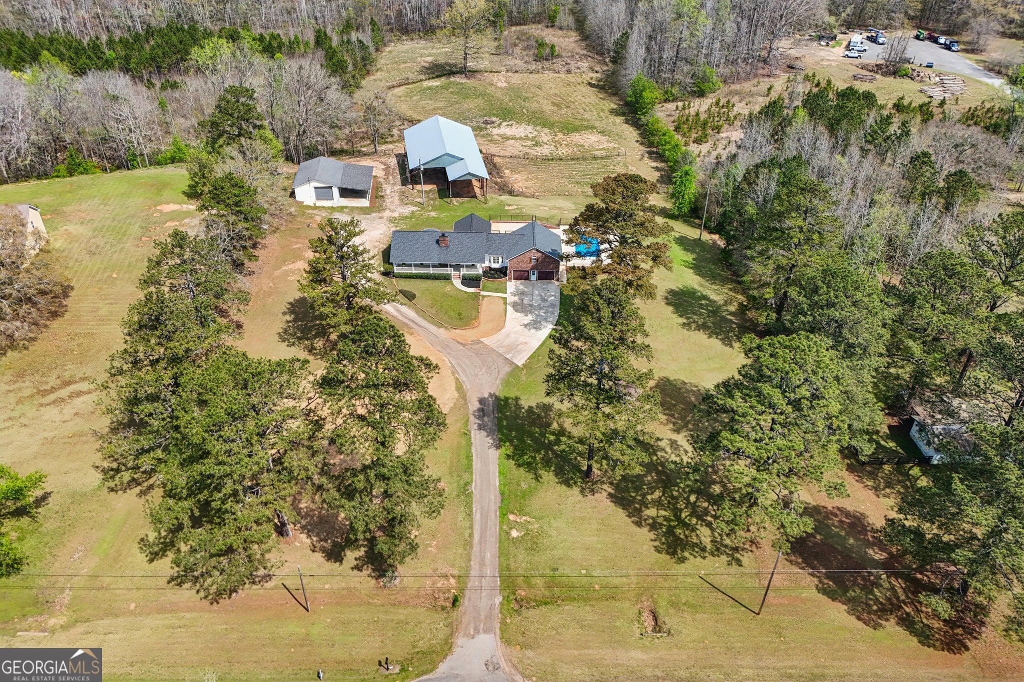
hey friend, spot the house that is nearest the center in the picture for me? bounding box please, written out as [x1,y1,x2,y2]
[390,214,563,282]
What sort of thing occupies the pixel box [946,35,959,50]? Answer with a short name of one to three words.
vehicle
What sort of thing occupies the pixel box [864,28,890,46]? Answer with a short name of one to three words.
vehicle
